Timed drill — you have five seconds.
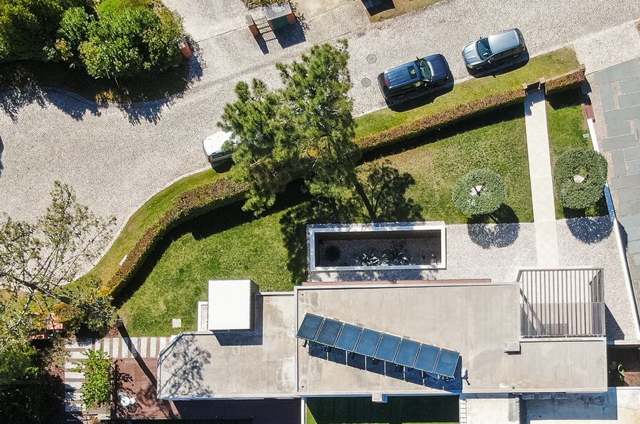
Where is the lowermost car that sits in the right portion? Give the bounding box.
[377,53,454,102]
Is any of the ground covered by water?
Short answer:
No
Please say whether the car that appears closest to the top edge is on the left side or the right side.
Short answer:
right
